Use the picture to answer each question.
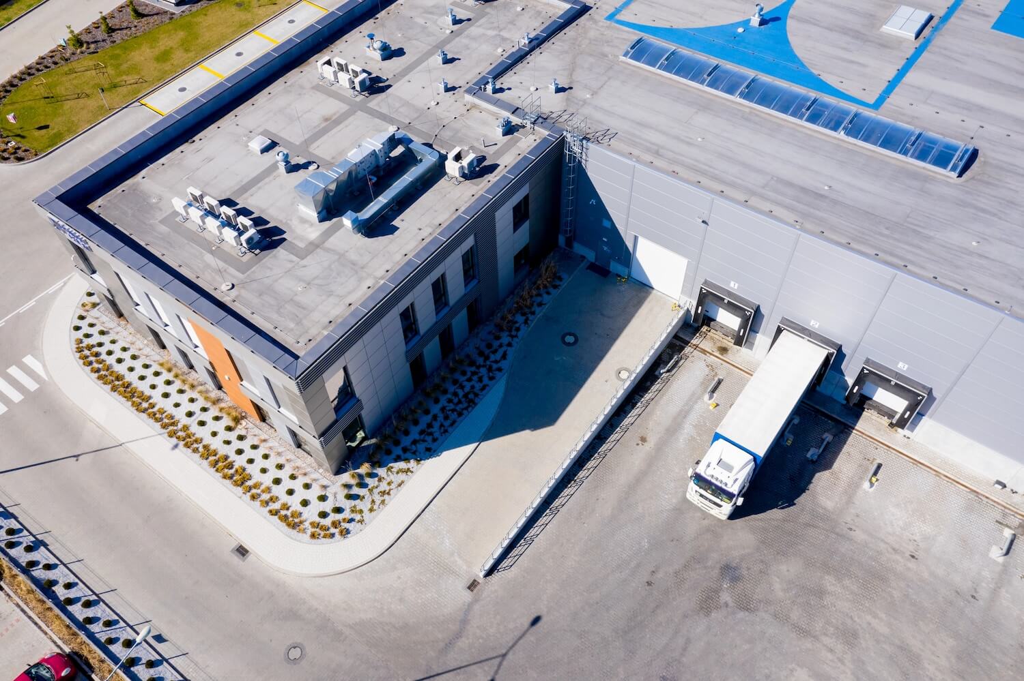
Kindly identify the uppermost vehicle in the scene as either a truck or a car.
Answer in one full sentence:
It turns out the uppermost vehicle is a truck.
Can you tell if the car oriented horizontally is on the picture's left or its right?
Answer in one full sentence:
The car oriented horizontally is on the left side of the image.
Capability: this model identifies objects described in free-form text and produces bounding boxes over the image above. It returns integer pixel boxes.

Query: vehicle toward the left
[4,651,76,681]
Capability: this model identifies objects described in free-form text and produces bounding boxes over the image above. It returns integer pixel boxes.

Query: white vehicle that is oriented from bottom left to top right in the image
[686,327,830,524]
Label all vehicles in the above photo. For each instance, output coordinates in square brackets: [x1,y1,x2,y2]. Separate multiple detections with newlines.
[686,327,830,524]
[4,651,76,681]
